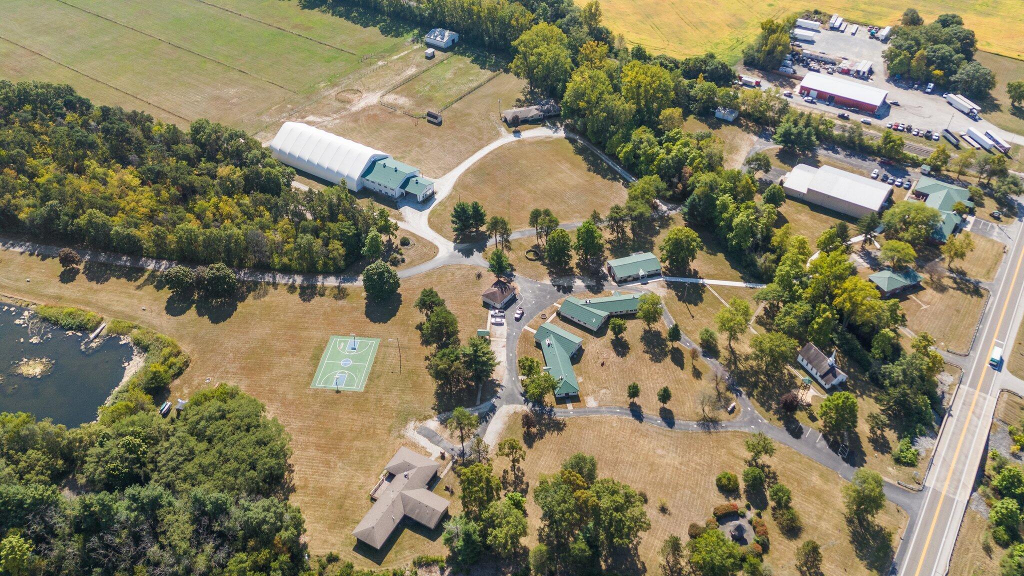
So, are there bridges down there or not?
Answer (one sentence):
Yes, I can see a bridge in this picture.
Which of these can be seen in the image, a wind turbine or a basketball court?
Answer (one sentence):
Of the two, only a basketball court appears.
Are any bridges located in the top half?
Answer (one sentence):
No, I can find no bridge in the top half.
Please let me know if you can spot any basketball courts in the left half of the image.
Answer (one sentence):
Yes, a basketball court shows up in the left half of the image.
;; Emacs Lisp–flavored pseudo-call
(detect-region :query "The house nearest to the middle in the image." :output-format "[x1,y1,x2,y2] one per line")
[482,281,516,308]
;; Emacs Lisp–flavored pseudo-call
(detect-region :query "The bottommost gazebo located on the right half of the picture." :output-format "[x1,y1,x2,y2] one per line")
[730,520,746,539]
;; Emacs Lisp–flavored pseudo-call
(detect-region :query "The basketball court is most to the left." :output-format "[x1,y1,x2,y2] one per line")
[309,336,381,392]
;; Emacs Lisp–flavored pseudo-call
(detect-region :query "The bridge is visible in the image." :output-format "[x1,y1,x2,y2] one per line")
[915,377,1003,520]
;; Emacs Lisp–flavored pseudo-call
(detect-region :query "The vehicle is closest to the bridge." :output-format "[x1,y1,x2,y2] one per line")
[988,342,1004,366]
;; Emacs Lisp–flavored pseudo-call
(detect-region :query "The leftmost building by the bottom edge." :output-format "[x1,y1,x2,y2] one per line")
[353,446,450,552]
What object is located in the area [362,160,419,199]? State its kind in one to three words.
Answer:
building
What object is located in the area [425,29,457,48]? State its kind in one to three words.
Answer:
barn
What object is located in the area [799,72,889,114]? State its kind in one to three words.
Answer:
barn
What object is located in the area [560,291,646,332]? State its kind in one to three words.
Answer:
building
